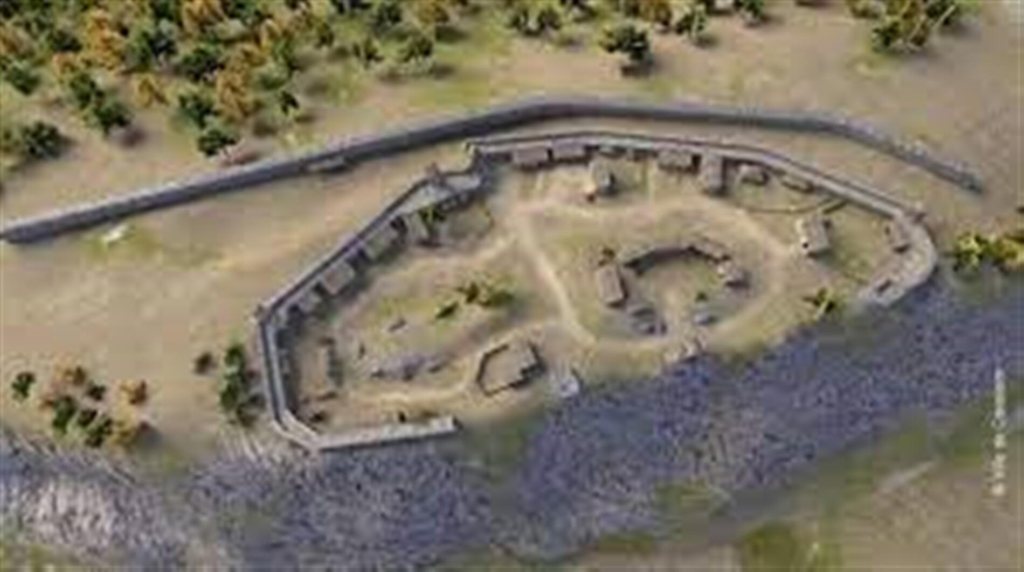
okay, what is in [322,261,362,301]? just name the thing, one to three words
house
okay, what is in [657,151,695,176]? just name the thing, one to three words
house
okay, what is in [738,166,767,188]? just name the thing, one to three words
shed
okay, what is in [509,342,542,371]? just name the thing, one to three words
shed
